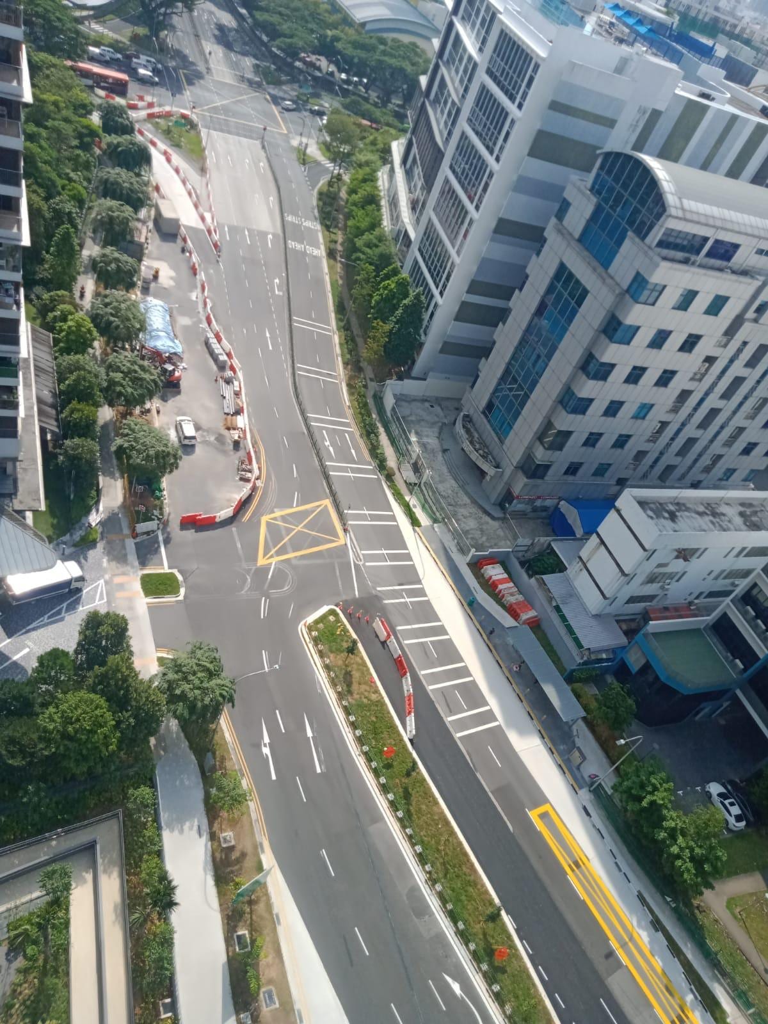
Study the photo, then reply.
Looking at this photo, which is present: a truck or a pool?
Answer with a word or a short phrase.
truck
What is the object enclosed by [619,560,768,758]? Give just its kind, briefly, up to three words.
building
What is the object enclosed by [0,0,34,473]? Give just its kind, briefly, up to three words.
building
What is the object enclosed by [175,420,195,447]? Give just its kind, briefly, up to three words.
car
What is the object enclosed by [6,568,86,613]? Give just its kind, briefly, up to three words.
truck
